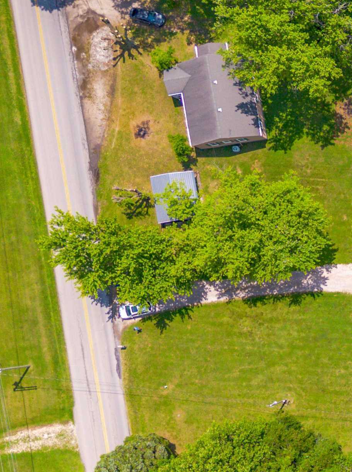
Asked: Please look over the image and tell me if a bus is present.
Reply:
No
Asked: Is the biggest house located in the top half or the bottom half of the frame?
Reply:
top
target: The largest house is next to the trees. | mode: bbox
[163,43,265,149]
